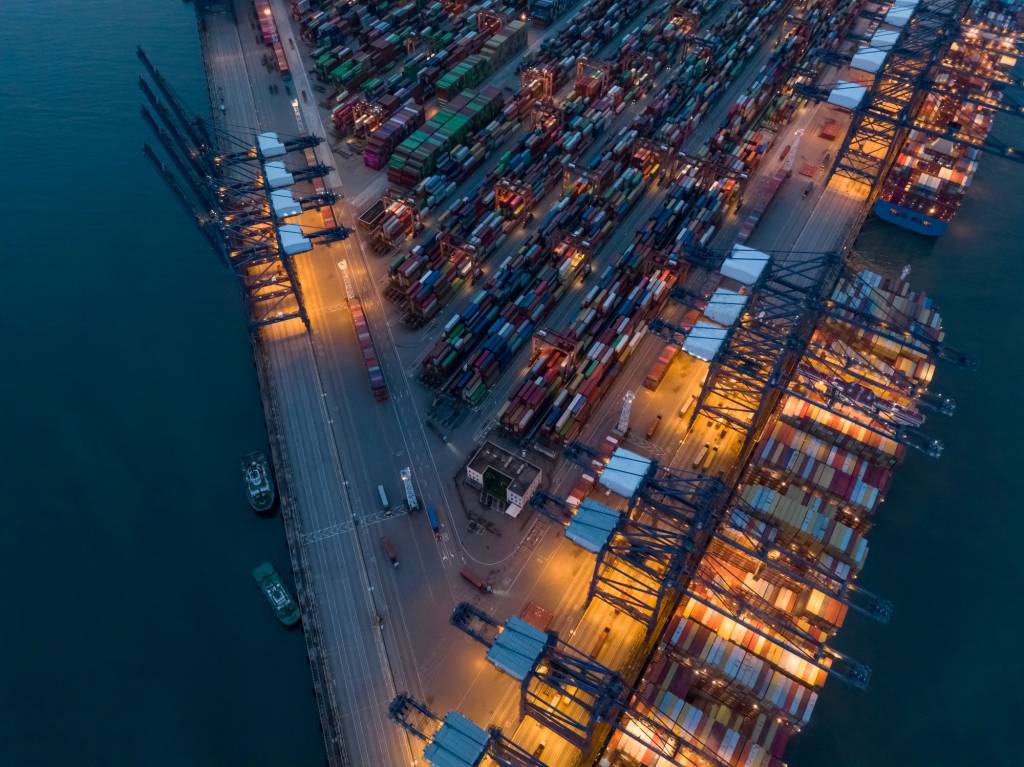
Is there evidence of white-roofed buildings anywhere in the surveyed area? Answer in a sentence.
No, the photo shows no white-roofed building.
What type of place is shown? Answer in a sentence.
What you see here is a port.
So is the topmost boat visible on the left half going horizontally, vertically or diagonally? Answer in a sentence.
From this overhead view, the topmost boat visible on the left half appears to run vertically.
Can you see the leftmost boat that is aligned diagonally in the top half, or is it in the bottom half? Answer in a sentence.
You can find the leftmost boat that is aligned diagonally in the bottom half.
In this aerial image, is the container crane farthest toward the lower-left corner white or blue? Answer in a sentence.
The container crane farthest toward the lower-left corner is blue.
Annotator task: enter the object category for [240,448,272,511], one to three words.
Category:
boat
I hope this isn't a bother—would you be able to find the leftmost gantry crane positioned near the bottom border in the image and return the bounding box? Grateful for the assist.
[382,688,535,767]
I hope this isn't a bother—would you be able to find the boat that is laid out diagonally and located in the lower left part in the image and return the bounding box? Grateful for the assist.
[249,558,298,625]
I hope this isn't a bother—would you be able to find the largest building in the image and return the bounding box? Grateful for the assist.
[466,440,542,515]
